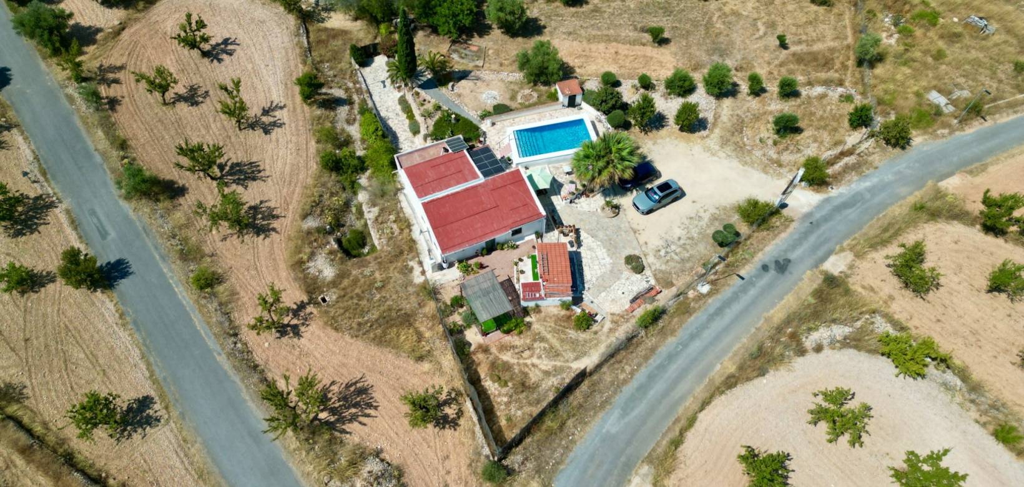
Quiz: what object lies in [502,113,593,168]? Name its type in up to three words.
swimming pool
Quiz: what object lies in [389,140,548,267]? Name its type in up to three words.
house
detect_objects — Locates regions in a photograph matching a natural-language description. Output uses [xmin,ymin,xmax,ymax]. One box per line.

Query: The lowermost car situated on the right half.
[632,179,683,215]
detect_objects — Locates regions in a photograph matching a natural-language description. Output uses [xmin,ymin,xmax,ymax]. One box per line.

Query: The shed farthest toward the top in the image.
[559,71,584,105]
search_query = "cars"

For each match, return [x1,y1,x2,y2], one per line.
[632,179,683,215]
[618,159,660,192]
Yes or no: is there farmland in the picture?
Yes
